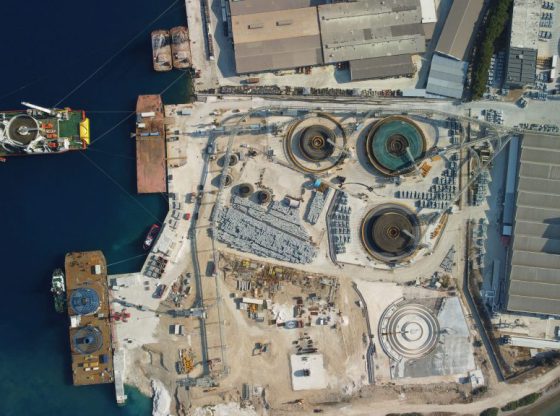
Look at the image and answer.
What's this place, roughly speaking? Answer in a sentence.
It's a port.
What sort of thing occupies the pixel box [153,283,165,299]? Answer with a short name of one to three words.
vehicle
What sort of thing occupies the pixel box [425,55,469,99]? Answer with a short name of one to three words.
building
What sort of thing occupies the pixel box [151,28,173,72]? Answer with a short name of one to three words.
ship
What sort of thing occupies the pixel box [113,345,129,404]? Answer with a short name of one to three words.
pier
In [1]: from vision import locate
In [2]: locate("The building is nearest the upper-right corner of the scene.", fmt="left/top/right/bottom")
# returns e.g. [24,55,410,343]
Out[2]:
[505,0,540,51]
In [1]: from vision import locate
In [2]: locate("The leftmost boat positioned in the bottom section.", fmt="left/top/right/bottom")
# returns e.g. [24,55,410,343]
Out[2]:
[51,269,66,313]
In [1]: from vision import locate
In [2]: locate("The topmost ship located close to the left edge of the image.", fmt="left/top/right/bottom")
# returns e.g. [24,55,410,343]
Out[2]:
[0,99,90,154]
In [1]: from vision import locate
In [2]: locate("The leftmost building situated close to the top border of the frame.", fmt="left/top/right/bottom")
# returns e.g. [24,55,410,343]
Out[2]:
[229,0,324,77]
